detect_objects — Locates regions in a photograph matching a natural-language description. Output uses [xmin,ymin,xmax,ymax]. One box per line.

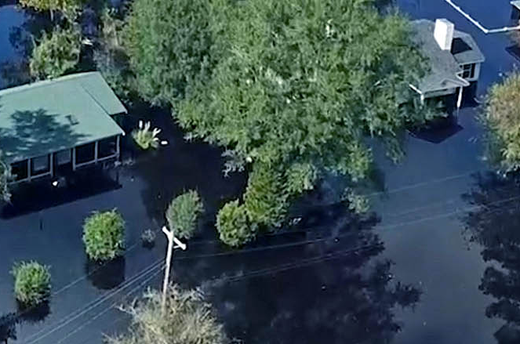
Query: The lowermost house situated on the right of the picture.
[361,19,489,112]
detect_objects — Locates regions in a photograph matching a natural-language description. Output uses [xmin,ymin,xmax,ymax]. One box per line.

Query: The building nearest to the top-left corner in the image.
[0,61,129,183]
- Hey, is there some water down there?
Yes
